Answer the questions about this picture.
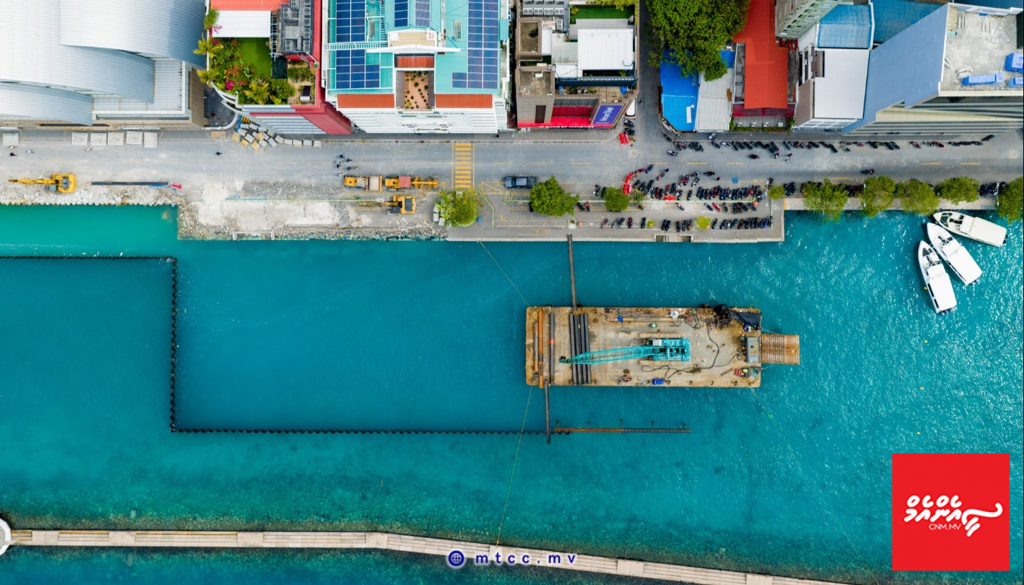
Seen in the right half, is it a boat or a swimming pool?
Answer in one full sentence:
The feature located in the right half is a boat.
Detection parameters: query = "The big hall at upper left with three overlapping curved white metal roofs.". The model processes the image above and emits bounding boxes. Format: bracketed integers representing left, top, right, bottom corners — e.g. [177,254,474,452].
[0,0,207,137]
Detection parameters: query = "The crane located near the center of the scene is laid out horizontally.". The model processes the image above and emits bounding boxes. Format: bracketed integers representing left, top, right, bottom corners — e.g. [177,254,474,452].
[547,331,690,365]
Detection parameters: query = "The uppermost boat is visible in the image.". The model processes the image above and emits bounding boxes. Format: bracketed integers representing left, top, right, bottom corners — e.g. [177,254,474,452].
[931,210,1011,247]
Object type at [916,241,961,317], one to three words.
boat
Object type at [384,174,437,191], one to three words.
work vehicle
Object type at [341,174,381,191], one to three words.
work vehicle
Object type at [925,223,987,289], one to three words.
boat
